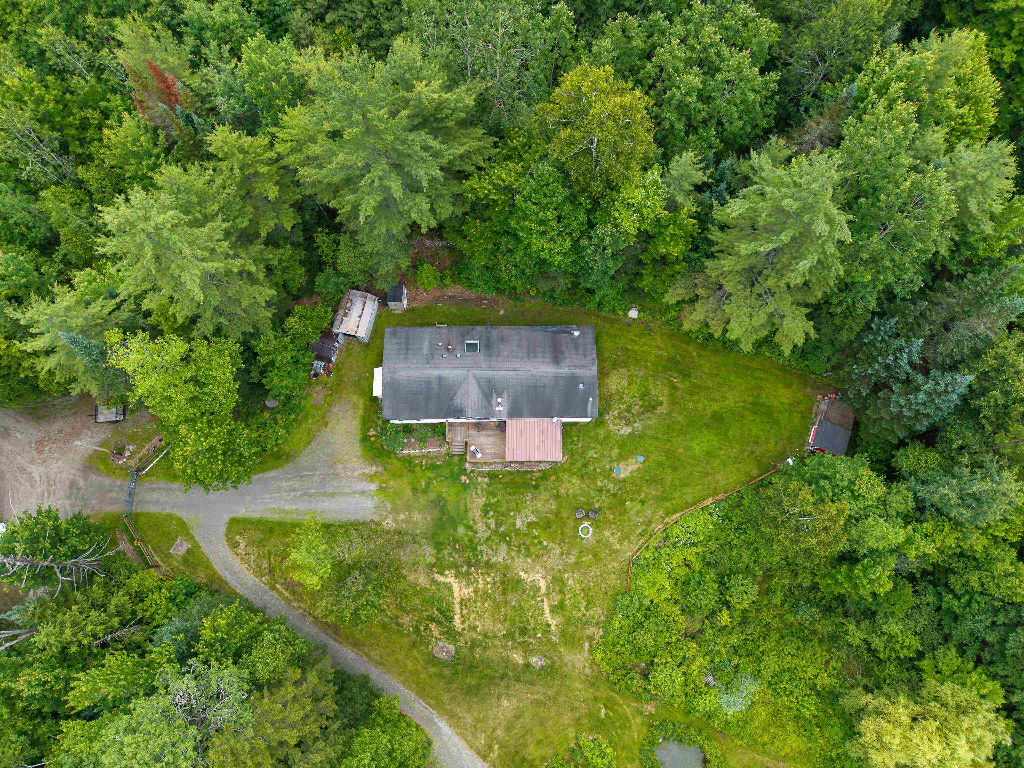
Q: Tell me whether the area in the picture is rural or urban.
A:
rural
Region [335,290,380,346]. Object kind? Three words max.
shed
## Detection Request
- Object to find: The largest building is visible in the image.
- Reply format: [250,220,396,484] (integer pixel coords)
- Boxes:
[373,320,598,424]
